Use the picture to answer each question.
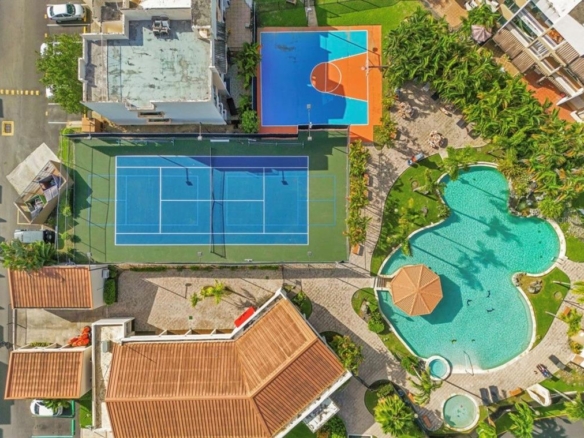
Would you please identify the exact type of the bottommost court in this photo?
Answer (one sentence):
I'd say the bottommost court is a tennis court.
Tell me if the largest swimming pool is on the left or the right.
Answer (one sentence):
You can find the largest swimming pool on the right side of the picture.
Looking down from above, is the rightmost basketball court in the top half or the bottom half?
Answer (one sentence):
The rightmost basketball court sits in the top half of the picture.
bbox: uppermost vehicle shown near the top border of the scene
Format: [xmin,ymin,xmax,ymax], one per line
[48,2,87,23]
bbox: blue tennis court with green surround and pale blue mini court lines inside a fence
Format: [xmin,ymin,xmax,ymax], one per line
[73,138,346,263]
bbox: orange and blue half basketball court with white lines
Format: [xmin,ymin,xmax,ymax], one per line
[258,26,381,141]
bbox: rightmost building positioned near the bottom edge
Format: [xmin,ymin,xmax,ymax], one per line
[90,291,355,438]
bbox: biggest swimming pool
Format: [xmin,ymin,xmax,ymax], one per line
[373,161,572,375]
